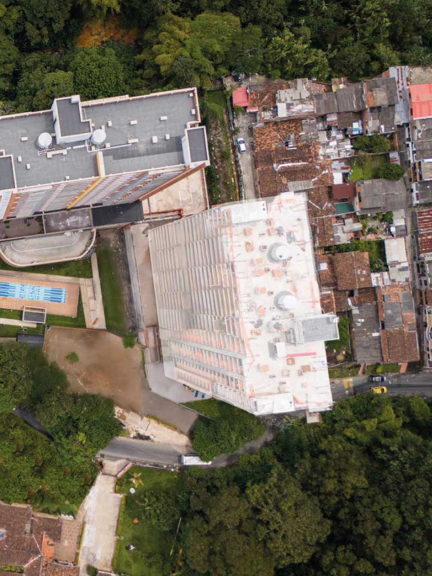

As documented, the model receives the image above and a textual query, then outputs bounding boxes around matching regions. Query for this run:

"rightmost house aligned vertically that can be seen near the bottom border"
[56,518,82,563]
